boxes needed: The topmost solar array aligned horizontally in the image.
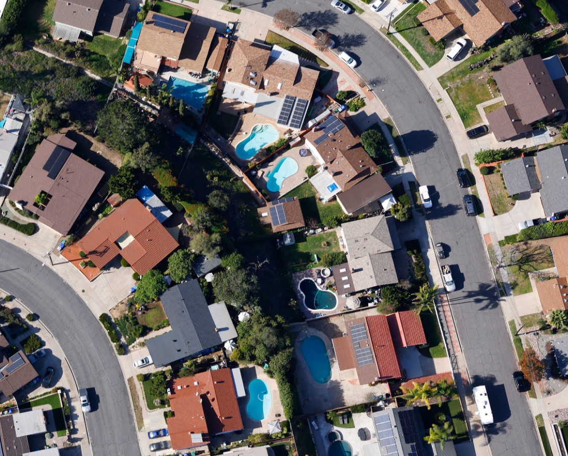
[152,15,187,33]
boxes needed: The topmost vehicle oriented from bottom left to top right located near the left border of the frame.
[28,349,47,364]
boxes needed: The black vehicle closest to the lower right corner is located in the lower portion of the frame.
[512,372,526,393]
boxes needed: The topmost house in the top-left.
[51,0,130,43]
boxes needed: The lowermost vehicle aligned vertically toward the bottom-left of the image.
[79,389,92,413]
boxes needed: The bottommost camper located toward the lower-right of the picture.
[471,386,494,426]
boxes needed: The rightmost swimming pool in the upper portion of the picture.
[265,155,300,198]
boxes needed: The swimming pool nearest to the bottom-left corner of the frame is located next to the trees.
[244,377,274,422]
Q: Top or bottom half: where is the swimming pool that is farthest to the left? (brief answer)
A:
top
